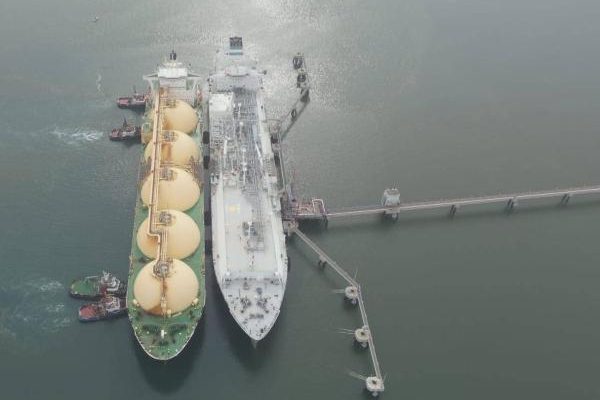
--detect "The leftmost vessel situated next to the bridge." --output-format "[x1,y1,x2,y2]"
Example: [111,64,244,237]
[128,51,206,360]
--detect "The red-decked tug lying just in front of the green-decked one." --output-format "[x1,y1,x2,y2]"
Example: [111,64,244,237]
[79,294,128,320]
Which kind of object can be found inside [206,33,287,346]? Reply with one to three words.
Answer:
ship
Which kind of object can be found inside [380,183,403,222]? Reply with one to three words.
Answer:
building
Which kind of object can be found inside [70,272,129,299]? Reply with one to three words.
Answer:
boat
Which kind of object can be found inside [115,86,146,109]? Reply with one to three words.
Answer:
boat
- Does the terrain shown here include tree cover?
No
